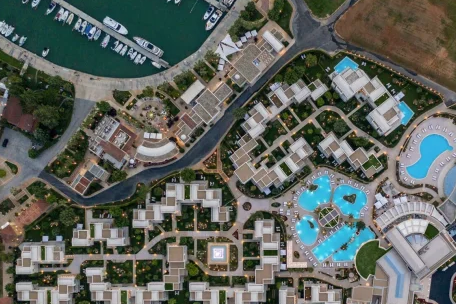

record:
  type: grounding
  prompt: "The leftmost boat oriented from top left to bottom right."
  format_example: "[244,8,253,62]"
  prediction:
[102,14,127,32]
